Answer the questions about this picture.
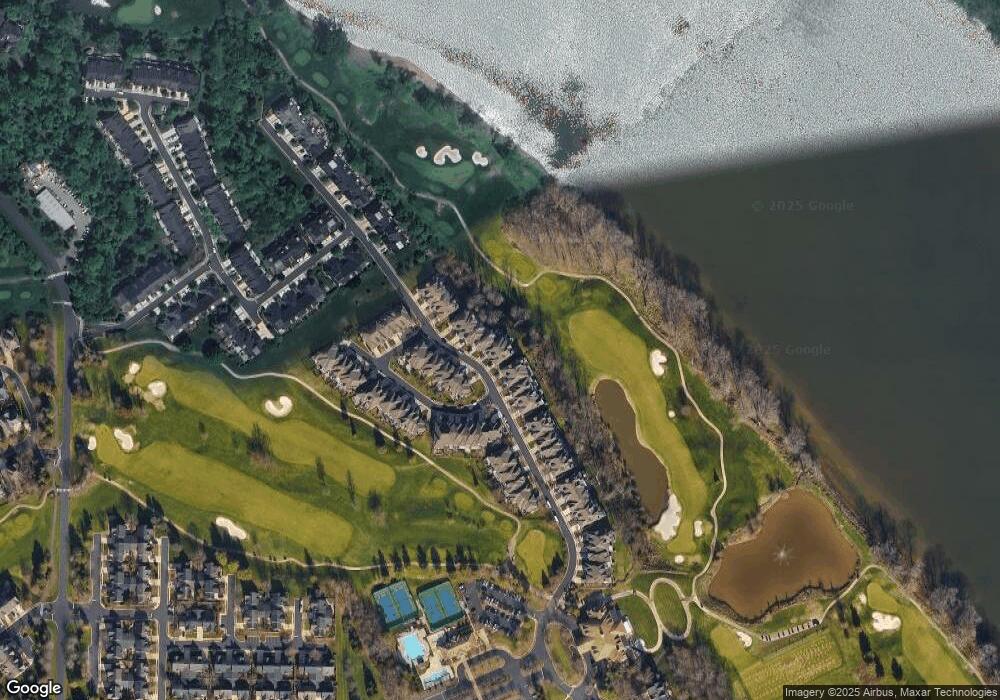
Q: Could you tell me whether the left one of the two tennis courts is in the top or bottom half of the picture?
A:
bottom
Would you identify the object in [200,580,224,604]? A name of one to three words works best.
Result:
house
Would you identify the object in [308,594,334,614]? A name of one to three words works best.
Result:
house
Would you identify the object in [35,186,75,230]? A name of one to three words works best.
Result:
shed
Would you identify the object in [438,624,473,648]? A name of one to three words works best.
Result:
building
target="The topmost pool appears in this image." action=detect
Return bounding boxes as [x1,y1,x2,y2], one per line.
[397,629,430,668]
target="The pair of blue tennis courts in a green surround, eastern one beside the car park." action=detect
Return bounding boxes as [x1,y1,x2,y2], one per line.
[417,580,464,627]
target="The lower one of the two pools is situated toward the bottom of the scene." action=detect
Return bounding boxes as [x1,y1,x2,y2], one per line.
[420,665,457,690]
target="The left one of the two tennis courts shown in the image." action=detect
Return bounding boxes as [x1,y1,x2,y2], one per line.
[373,580,419,626]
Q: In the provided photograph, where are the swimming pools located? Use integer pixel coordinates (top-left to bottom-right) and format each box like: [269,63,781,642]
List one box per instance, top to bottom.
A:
[397,629,430,668]
[420,665,457,690]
